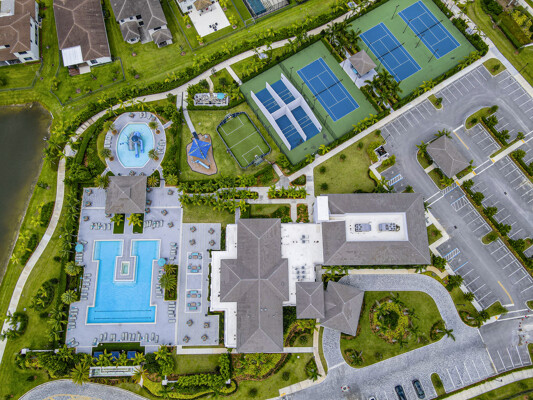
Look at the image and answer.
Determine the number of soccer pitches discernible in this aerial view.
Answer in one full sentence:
The picture shows just 1 soccer pitch.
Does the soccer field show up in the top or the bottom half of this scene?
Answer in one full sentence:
Seen from above, the soccer field lies in the top half of the view.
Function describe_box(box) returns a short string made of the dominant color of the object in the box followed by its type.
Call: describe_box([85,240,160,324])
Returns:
blue swimming pool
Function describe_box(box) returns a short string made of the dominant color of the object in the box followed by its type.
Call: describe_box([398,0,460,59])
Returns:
blue tennis court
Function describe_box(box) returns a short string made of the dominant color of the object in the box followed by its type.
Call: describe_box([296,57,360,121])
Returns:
blue tennis court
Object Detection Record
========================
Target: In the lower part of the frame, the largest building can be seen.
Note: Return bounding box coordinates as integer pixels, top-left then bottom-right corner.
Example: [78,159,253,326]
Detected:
[210,193,430,353]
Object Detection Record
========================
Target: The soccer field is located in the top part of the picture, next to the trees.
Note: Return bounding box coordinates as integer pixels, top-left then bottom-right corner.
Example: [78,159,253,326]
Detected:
[217,110,271,168]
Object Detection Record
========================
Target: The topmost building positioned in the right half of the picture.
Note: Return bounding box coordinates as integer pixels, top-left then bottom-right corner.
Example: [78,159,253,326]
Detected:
[349,50,376,79]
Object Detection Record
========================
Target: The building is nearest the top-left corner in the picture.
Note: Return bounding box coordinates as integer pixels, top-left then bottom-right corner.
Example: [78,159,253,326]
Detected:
[0,0,42,65]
